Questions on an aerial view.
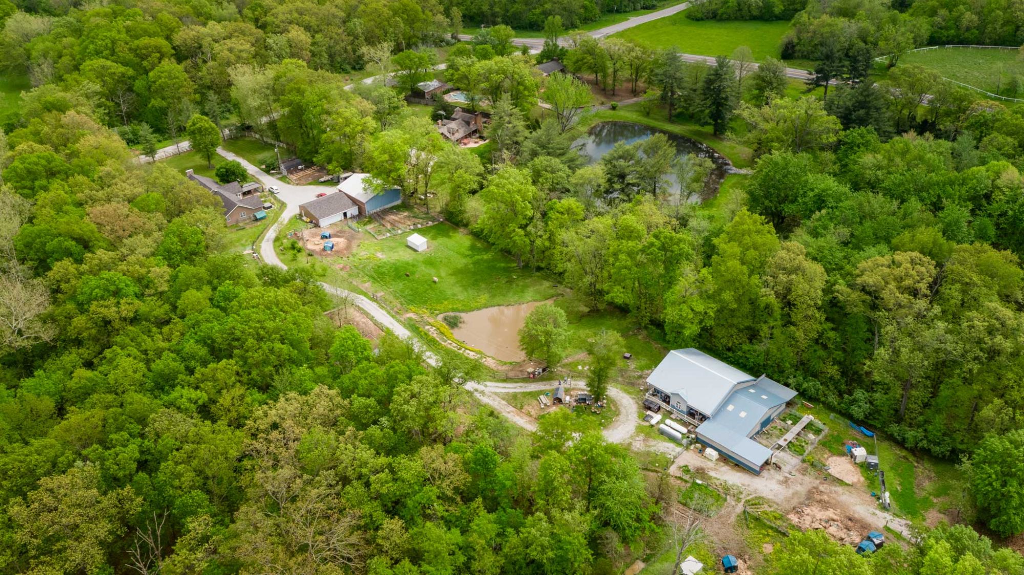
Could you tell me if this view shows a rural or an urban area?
rural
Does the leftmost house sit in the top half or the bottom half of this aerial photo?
top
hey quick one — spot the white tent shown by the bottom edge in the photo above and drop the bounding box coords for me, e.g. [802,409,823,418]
[677,555,710,575]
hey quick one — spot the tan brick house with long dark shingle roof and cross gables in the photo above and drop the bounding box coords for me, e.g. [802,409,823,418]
[182,174,264,225]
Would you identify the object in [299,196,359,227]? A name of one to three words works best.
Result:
building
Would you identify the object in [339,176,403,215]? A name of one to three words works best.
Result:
barn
